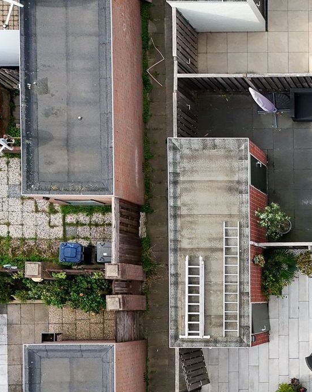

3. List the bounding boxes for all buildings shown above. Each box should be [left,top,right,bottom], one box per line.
[20,0,144,205]
[168,0,272,28]
[168,138,270,347]
[25,340,145,392]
